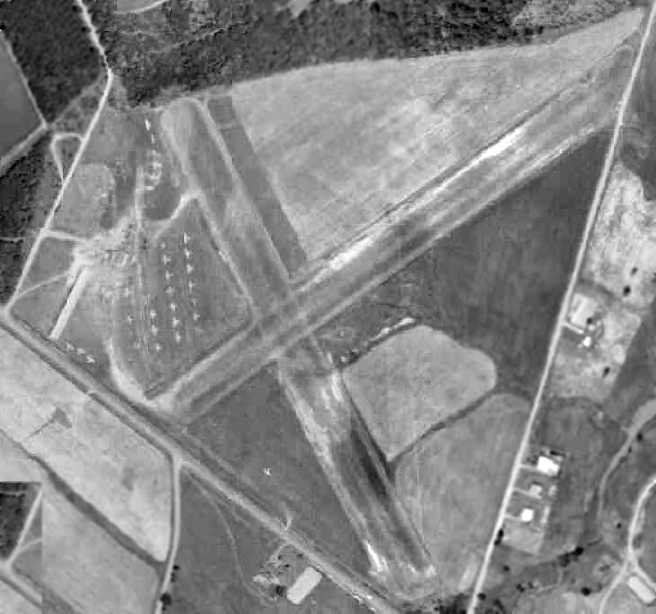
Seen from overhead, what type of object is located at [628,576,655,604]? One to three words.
house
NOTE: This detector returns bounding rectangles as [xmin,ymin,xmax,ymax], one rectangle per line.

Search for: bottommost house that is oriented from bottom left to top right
[286,567,322,605]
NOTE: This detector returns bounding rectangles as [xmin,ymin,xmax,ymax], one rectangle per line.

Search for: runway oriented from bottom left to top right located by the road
[141,34,639,427]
